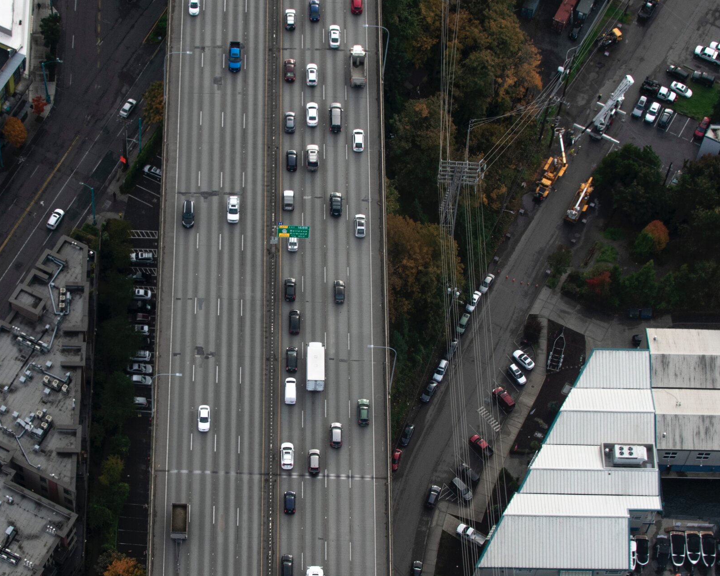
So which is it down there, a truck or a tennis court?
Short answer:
truck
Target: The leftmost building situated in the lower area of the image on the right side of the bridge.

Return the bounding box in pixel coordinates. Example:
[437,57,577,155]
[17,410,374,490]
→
[474,348,662,576]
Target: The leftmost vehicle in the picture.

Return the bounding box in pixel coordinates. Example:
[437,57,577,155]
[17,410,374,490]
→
[47,209,64,231]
